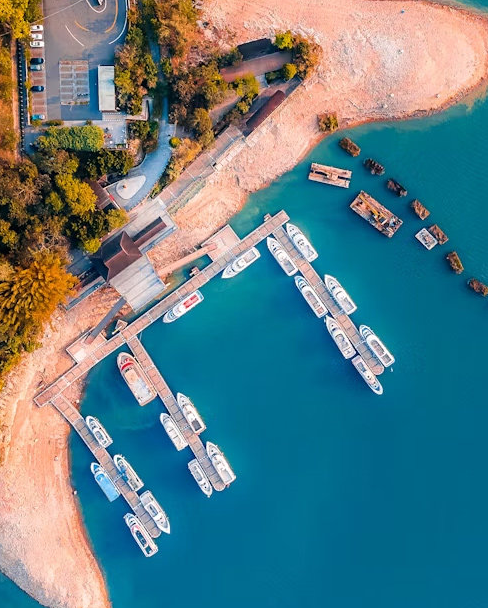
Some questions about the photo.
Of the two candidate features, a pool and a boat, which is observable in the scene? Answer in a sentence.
The image shows a boat.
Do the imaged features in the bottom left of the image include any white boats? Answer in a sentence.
Yes, I can see a white boat in the bottom left of the image.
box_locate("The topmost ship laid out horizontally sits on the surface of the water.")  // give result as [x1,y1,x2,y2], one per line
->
[308,163,351,188]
